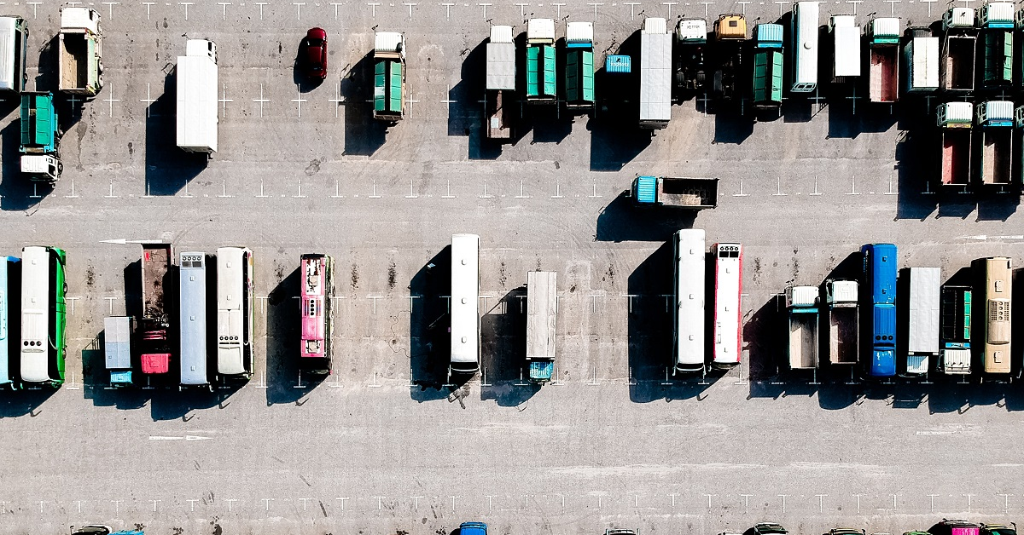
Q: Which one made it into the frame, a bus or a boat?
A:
bus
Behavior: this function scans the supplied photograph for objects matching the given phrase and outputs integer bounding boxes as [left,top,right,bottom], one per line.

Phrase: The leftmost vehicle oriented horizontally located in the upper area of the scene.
[629,173,718,210]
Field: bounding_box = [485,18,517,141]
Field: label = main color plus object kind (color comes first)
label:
white truck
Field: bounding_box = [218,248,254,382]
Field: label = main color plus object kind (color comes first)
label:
white bus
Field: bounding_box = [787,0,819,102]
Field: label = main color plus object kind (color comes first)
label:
white bus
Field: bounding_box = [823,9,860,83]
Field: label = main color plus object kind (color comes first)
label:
white truck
